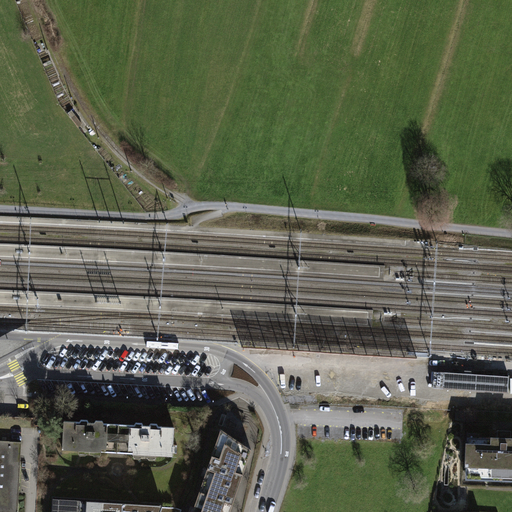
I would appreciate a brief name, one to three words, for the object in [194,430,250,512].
building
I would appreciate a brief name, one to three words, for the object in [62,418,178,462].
building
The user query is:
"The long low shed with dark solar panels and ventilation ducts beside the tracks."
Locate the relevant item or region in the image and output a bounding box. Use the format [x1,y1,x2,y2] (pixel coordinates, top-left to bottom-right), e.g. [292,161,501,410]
[431,371,510,394]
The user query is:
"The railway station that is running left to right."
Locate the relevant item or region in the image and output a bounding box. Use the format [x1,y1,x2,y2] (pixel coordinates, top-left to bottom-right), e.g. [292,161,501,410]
[0,216,406,324]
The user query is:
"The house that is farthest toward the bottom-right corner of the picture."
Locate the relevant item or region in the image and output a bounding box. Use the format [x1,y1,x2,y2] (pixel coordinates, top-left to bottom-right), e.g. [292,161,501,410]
[464,436,512,482]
